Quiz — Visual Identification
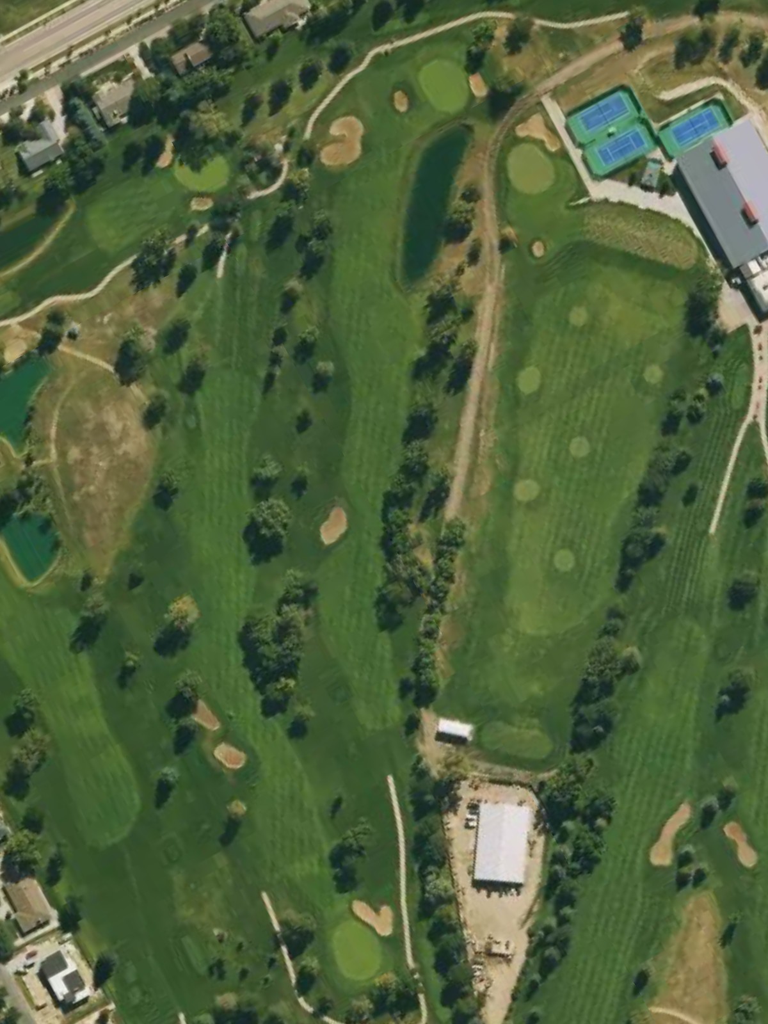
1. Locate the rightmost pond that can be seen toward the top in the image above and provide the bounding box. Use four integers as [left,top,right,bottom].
[401,123,474,287]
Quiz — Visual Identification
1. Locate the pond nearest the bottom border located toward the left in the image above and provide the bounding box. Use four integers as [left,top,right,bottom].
[0,512,61,581]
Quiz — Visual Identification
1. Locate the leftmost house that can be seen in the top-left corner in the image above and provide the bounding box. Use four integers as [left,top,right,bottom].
[18,117,63,171]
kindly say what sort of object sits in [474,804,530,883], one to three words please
building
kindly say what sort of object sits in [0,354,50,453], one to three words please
pond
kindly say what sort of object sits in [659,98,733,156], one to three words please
tennis court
